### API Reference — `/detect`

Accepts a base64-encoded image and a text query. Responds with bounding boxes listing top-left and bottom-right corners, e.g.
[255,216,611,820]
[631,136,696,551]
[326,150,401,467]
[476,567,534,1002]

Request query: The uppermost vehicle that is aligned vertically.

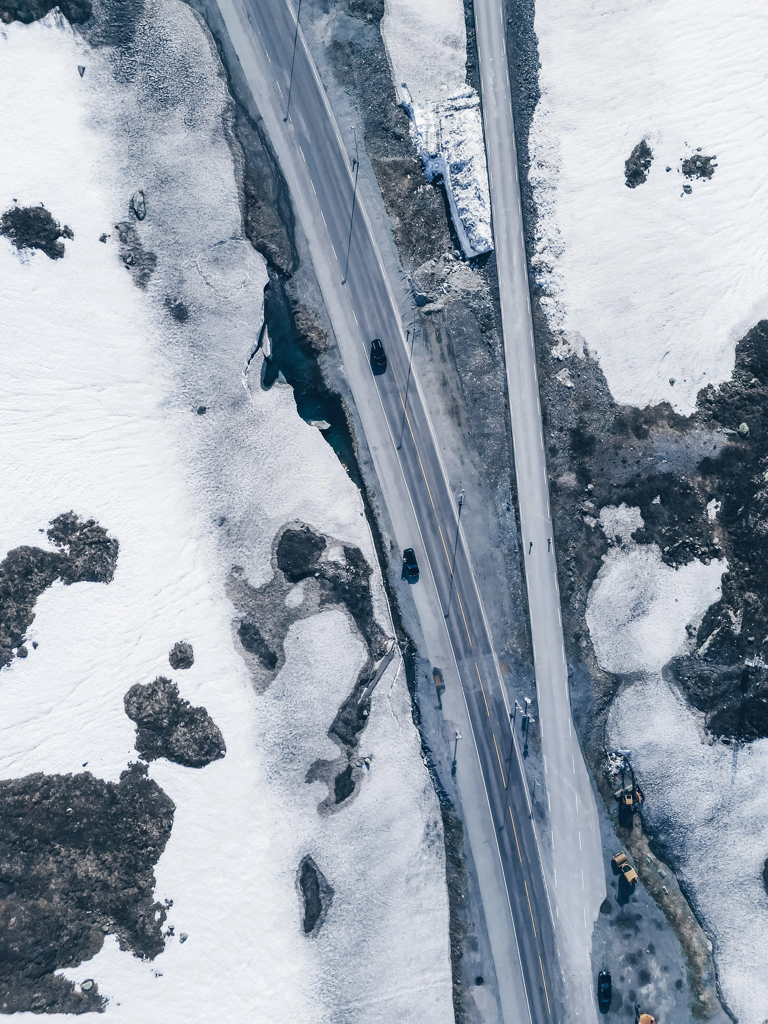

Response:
[373,337,388,366]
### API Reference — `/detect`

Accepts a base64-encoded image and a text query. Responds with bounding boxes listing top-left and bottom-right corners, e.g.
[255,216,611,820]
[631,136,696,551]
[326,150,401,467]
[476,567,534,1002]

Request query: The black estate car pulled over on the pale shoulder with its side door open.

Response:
[401,548,419,576]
